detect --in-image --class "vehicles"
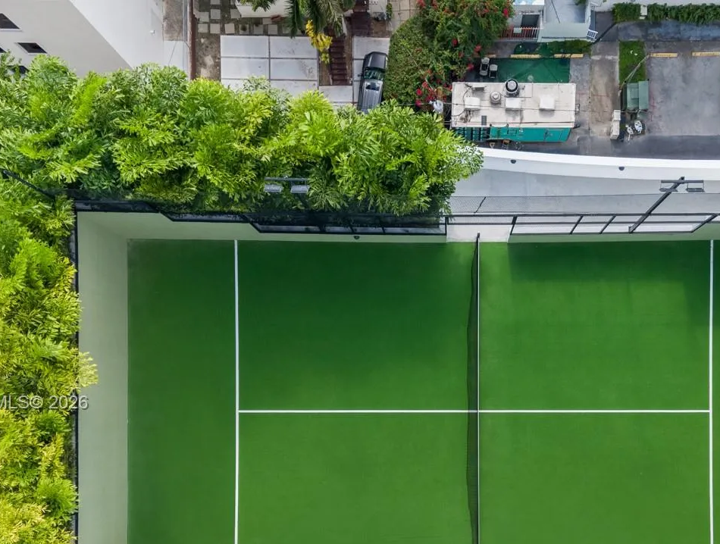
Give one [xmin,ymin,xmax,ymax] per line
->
[452,77,576,147]
[352,47,390,127]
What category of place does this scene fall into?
sports ground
